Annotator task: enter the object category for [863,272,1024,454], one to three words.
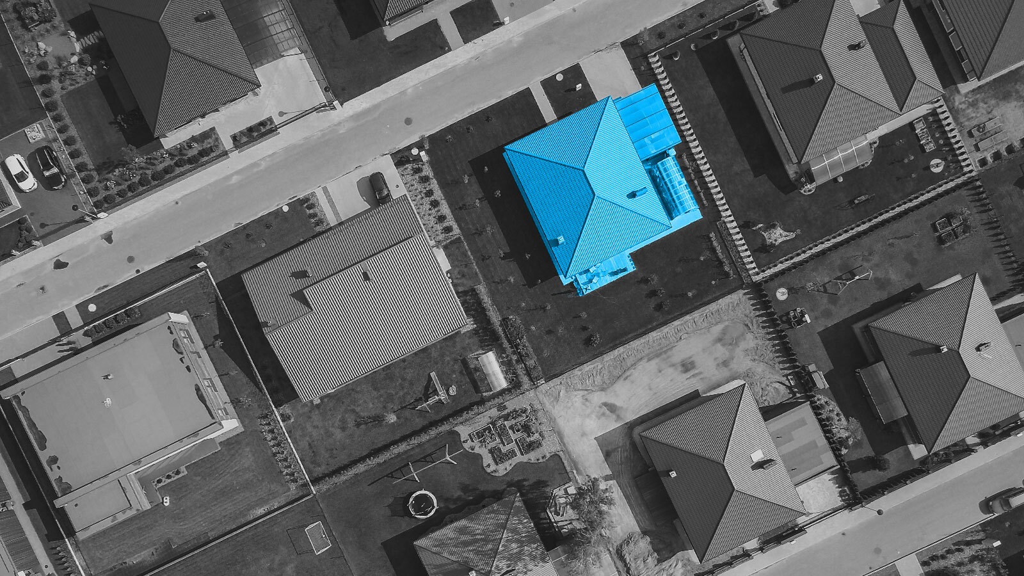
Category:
house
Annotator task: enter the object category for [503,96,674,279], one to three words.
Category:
house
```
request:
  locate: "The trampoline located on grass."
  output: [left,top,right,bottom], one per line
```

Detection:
[406,491,437,523]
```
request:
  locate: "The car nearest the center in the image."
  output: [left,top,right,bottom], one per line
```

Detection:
[367,166,394,206]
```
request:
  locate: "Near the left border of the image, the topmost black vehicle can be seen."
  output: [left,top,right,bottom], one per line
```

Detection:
[28,144,61,188]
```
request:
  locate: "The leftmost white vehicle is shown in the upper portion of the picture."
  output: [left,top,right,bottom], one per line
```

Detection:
[3,151,32,191]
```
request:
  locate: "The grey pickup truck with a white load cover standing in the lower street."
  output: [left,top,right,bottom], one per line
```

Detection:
[985,481,1024,514]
